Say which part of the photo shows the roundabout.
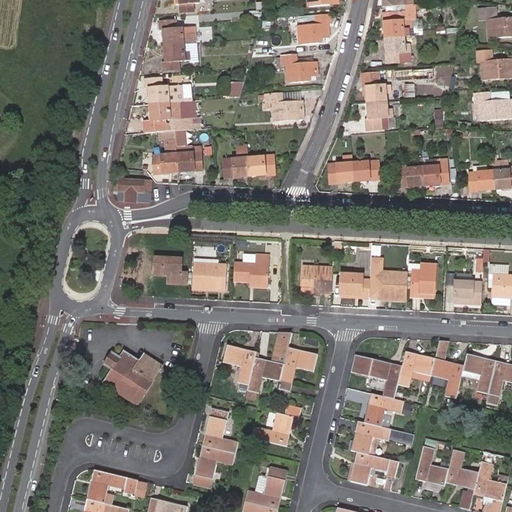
left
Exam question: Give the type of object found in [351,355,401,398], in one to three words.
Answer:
house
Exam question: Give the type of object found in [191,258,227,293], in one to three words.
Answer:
house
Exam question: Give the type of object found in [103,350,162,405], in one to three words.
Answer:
building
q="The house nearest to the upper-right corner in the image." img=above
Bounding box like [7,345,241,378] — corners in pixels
[478,7,512,38]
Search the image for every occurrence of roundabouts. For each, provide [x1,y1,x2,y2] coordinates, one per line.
[50,199,127,322]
